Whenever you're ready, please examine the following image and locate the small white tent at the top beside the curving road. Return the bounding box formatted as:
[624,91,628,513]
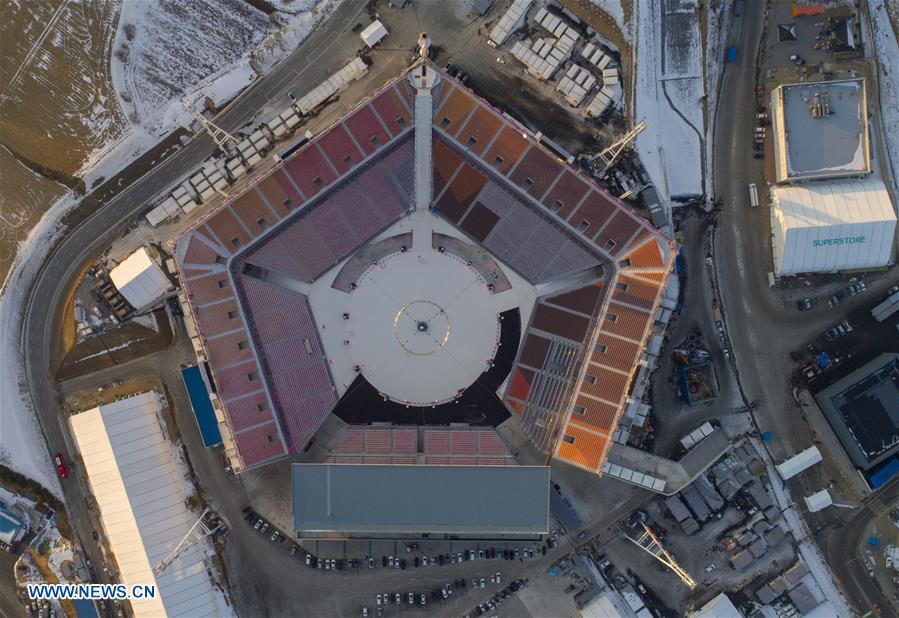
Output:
[360,20,389,51]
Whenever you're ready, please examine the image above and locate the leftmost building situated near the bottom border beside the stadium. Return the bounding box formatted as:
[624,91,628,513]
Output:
[69,390,228,618]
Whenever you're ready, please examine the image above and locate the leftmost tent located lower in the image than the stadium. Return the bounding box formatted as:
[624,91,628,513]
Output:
[573,589,622,618]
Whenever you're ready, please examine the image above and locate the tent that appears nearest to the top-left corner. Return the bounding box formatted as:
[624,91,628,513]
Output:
[110,247,176,309]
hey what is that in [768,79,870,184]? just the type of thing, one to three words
building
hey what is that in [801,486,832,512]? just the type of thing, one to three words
tent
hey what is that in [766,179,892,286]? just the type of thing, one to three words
building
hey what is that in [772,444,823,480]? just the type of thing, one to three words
tent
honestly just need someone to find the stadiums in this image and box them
[169,56,675,540]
